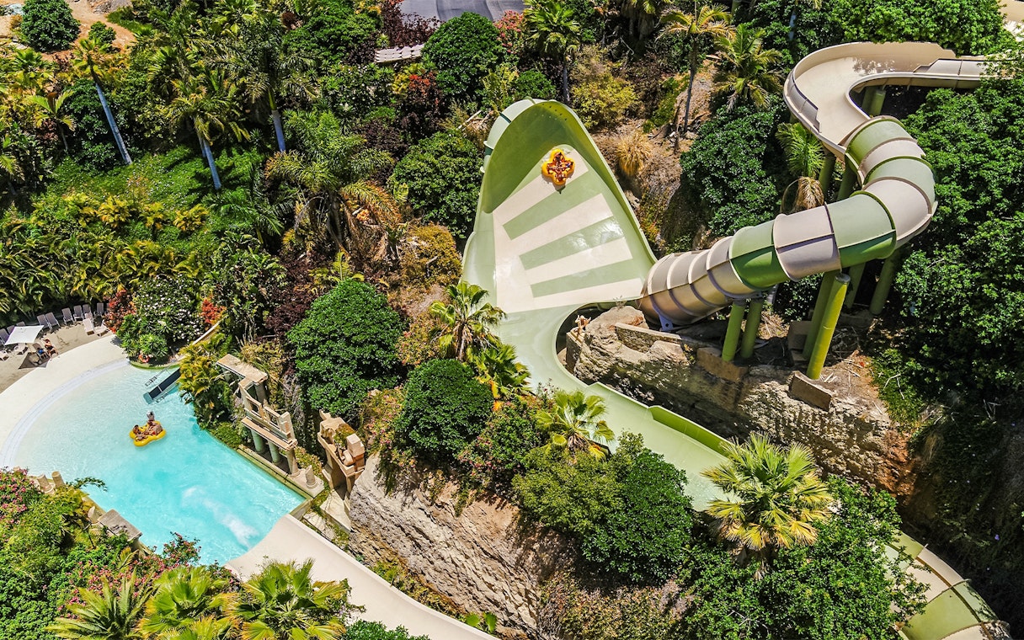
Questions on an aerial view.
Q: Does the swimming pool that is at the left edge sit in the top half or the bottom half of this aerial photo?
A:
bottom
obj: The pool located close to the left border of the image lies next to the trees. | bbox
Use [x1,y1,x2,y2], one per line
[0,356,294,562]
